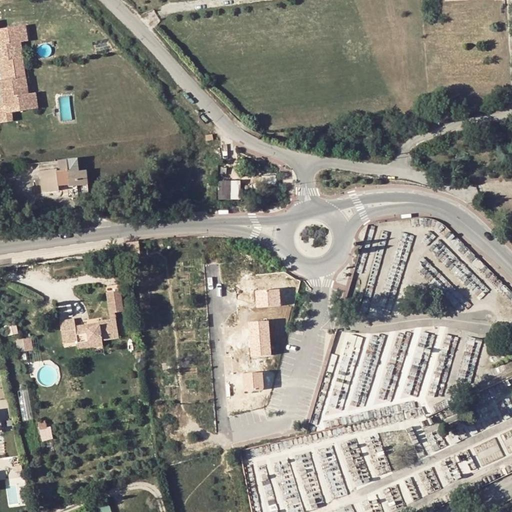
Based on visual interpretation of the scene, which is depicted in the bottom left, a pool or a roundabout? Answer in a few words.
pool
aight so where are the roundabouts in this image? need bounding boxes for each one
[257,194,366,289]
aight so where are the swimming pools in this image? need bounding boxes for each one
[56,93,77,124]
[7,485,18,505]
[38,44,52,58]
[31,360,61,388]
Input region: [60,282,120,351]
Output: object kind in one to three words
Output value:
house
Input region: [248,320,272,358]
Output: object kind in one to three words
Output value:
house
